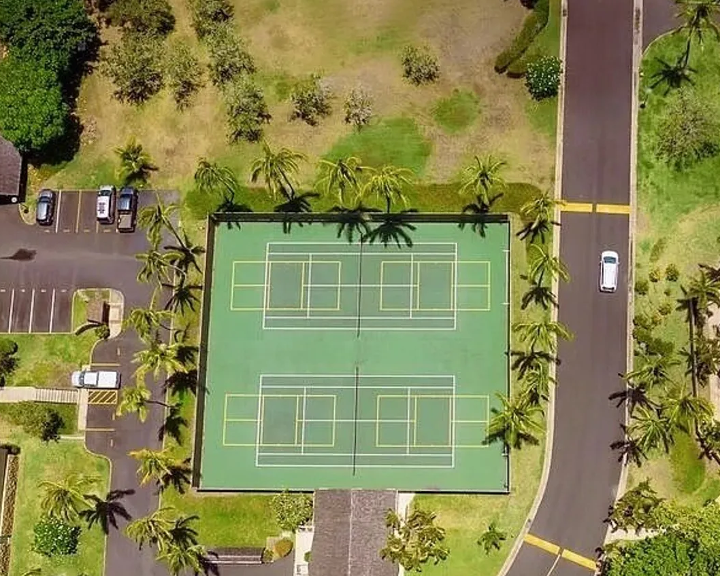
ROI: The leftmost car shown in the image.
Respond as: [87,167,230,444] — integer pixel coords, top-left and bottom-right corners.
[35,190,57,226]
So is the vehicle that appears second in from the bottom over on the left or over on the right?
right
